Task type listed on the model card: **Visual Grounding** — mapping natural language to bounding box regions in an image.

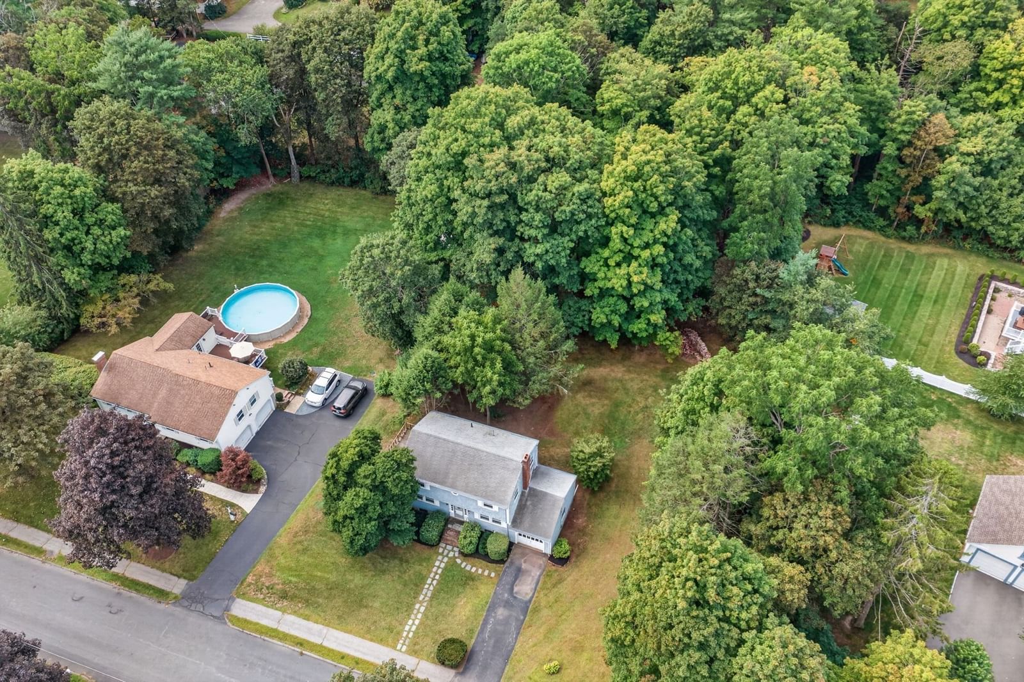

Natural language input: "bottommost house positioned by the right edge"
[959,475,1024,591]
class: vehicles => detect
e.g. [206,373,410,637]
[306,371,340,407]
[334,381,368,416]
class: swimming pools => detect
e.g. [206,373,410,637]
[220,282,301,342]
